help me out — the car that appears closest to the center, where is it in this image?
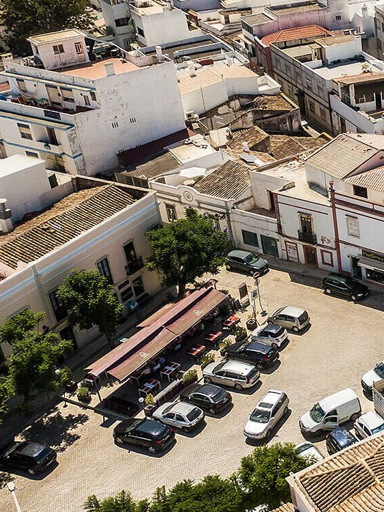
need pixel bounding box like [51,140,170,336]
[224,247,268,274]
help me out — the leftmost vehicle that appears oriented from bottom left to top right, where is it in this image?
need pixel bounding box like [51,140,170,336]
[238,384,297,436]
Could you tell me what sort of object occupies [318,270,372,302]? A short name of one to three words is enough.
car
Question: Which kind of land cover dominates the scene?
buildings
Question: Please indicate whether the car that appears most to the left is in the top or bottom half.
bottom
